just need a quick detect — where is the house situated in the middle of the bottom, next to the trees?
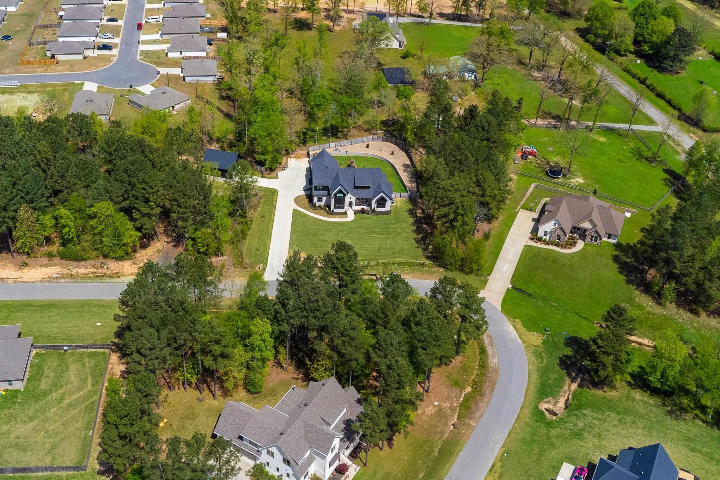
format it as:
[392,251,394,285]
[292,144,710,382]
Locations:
[211,374,374,480]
